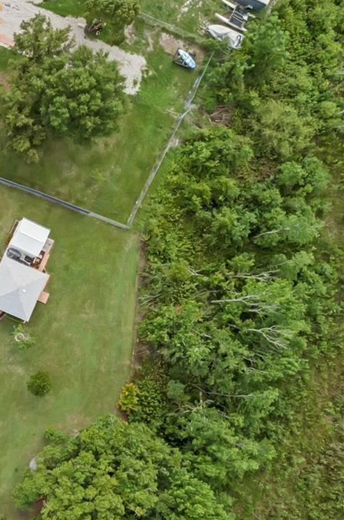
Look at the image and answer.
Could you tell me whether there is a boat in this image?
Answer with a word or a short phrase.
Yes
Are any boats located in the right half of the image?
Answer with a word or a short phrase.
Yes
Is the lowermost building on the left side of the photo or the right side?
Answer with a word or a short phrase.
left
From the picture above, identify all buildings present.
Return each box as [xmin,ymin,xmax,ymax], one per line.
[8,217,51,257]
[0,255,48,322]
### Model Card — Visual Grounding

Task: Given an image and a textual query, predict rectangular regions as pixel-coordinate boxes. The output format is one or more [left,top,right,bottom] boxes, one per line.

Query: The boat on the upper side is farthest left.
[178,48,195,66]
